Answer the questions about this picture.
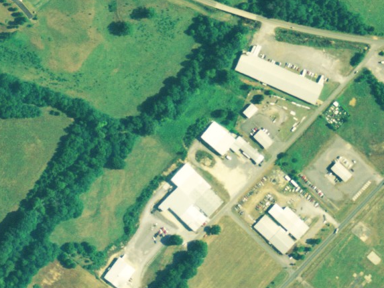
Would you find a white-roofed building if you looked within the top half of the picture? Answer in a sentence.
Yes, you'll find a white-roofed building within the top half of the picture.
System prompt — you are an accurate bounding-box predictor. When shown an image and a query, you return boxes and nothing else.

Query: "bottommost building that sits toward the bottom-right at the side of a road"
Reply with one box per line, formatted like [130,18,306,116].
[253,204,309,255]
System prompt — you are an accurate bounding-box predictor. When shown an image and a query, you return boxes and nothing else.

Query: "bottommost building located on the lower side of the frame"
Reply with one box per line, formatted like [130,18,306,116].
[103,255,135,288]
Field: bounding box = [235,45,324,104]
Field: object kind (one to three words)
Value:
building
